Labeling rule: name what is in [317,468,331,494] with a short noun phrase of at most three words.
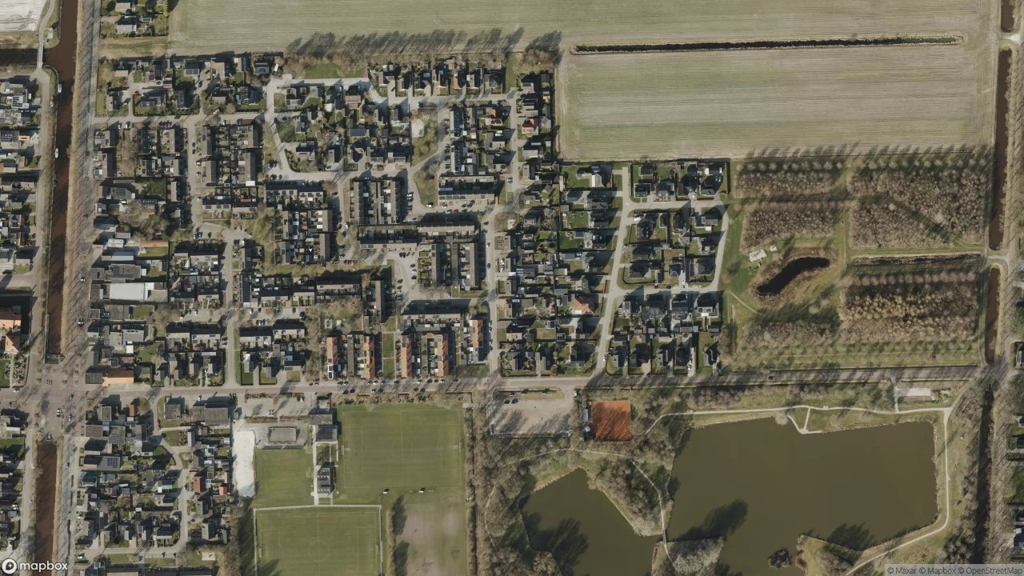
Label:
building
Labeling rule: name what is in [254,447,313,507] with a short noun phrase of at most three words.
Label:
sports field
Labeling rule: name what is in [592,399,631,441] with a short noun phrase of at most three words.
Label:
sports court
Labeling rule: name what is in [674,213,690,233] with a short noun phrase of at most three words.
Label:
house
